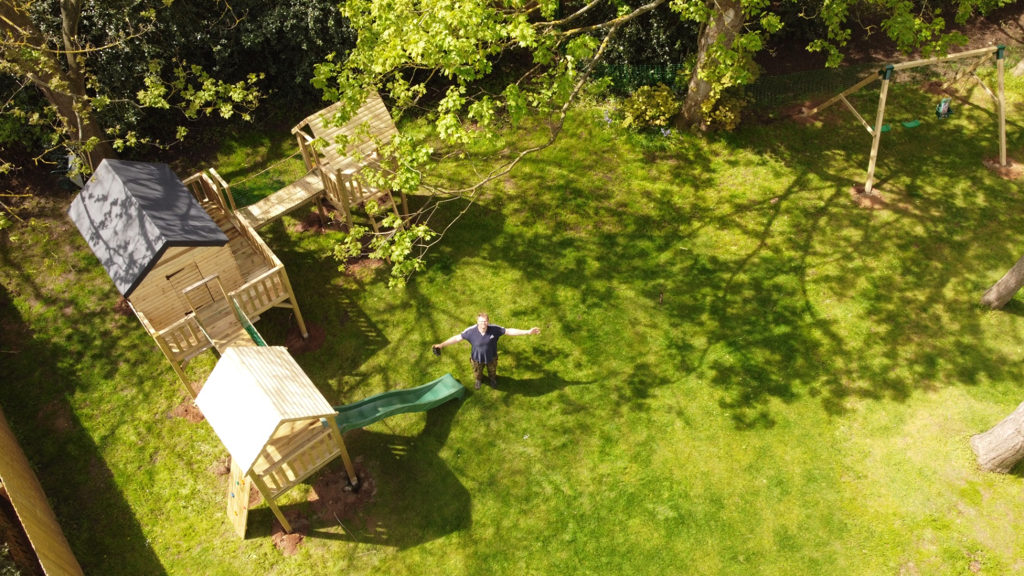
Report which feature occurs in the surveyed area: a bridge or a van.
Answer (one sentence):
Looking from above, you can make out a bridge.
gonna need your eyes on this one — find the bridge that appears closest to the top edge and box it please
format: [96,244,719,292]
[222,149,324,228]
